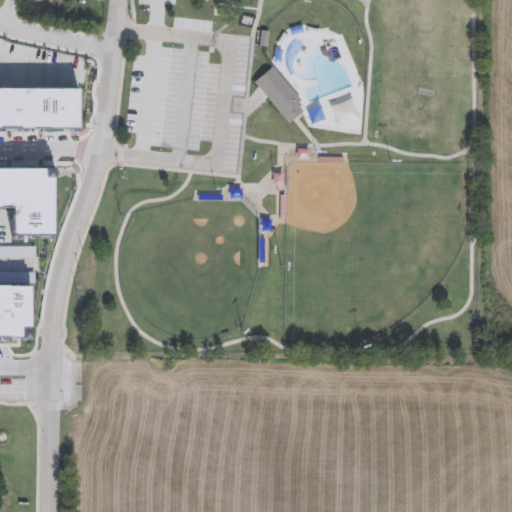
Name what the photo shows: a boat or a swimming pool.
swimming pool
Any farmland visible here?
Yes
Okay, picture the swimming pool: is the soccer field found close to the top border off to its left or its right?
to the right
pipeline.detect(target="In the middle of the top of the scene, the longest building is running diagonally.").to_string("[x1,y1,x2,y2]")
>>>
[256,68,304,122]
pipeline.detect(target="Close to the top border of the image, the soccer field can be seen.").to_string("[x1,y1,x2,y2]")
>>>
[372,0,469,154]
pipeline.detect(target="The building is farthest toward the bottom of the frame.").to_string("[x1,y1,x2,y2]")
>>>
[0,286,34,338]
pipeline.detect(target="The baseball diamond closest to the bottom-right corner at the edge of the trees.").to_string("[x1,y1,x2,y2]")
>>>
[285,164,466,350]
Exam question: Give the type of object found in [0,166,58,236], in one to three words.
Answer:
building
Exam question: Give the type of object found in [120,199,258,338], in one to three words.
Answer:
baseball field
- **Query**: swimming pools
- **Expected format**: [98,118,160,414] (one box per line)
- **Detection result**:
[274,26,363,135]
